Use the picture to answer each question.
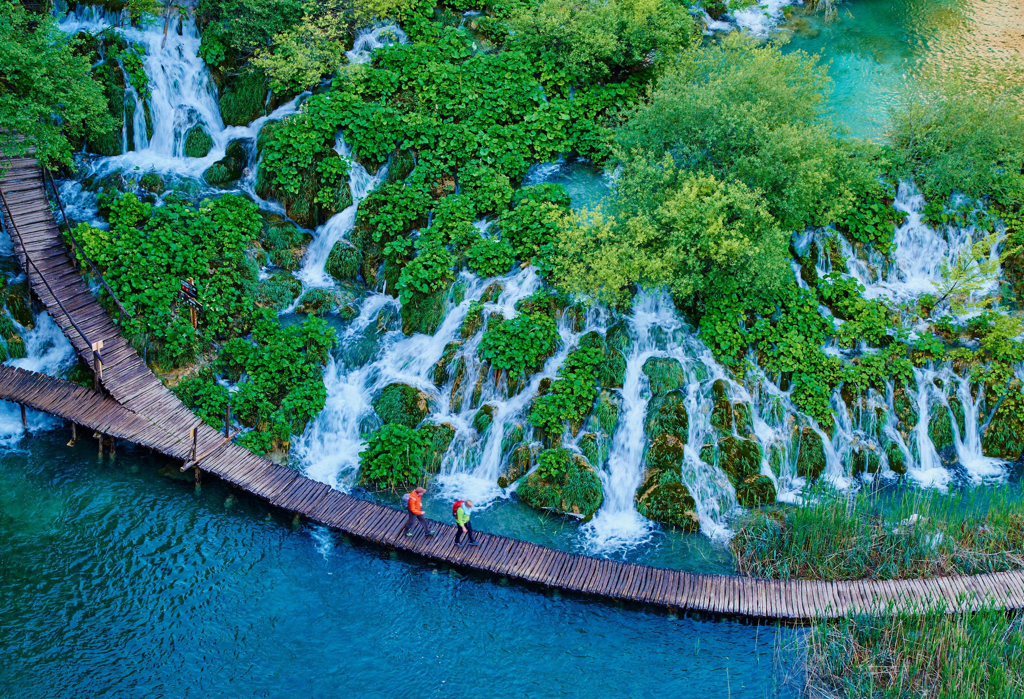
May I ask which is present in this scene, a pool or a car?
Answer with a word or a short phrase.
pool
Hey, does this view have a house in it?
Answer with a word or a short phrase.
No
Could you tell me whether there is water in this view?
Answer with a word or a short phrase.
Yes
